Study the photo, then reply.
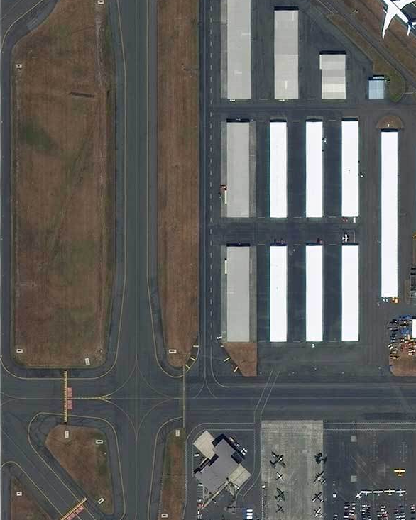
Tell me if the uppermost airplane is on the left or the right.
right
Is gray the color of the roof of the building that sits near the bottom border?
Yes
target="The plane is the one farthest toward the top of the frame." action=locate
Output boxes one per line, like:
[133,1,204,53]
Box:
[384,0,416,39]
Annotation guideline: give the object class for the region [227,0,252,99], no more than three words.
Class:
hangar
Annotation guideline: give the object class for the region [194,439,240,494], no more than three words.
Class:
building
